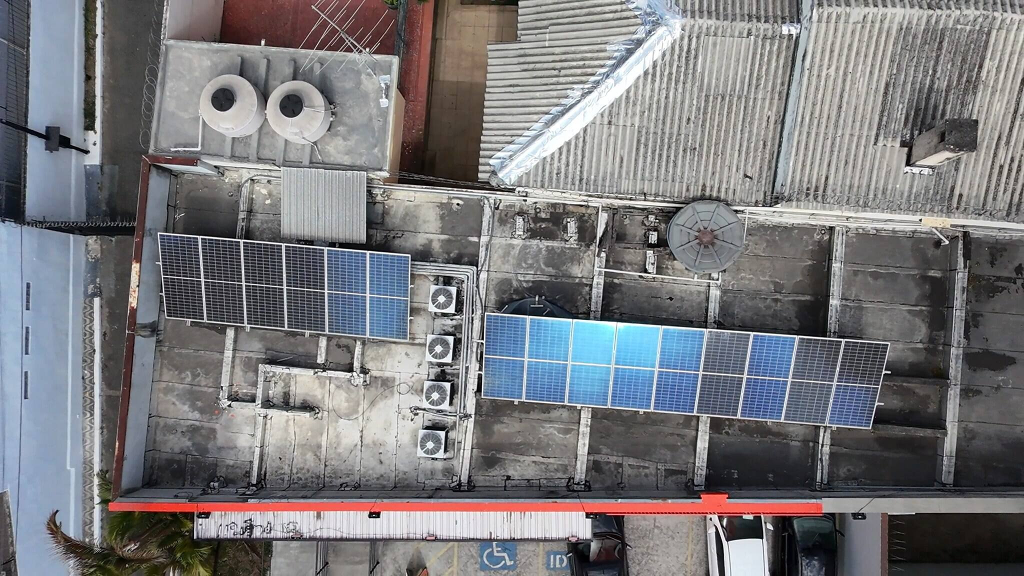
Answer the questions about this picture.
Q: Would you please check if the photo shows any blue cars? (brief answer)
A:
No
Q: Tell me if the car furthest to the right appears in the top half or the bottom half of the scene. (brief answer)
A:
bottom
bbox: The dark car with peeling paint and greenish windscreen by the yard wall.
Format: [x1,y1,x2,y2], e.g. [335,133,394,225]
[777,513,848,576]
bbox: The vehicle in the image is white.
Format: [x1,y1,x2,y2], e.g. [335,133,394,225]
[706,515,779,576]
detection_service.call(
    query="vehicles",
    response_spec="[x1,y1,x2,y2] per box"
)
[565,515,638,576]
[706,515,779,576]
[777,513,848,576]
